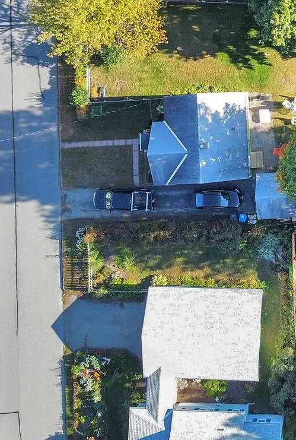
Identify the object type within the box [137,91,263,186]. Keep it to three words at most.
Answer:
house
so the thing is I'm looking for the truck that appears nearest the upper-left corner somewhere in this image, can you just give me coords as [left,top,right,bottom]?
[92,190,152,213]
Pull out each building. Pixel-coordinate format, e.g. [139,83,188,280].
[254,173,295,221]
[137,91,263,186]
[128,284,286,440]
